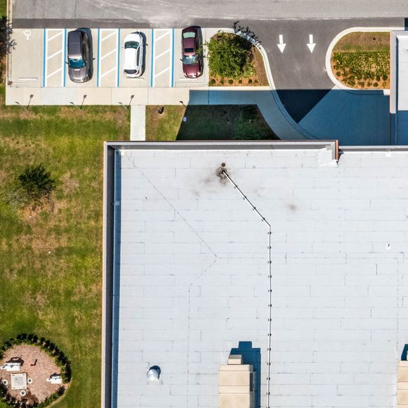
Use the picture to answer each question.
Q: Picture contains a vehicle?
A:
Yes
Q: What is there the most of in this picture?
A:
buildings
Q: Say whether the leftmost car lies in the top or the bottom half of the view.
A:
top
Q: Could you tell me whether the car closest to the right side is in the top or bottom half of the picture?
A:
top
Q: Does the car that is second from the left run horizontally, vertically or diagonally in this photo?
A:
vertically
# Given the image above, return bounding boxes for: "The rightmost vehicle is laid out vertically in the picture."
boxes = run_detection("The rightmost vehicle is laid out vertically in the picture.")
[180,27,205,79]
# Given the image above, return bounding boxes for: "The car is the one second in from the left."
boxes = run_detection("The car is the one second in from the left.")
[121,33,146,80]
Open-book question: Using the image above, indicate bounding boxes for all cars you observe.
[121,33,146,80]
[180,27,205,79]
[65,30,92,82]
